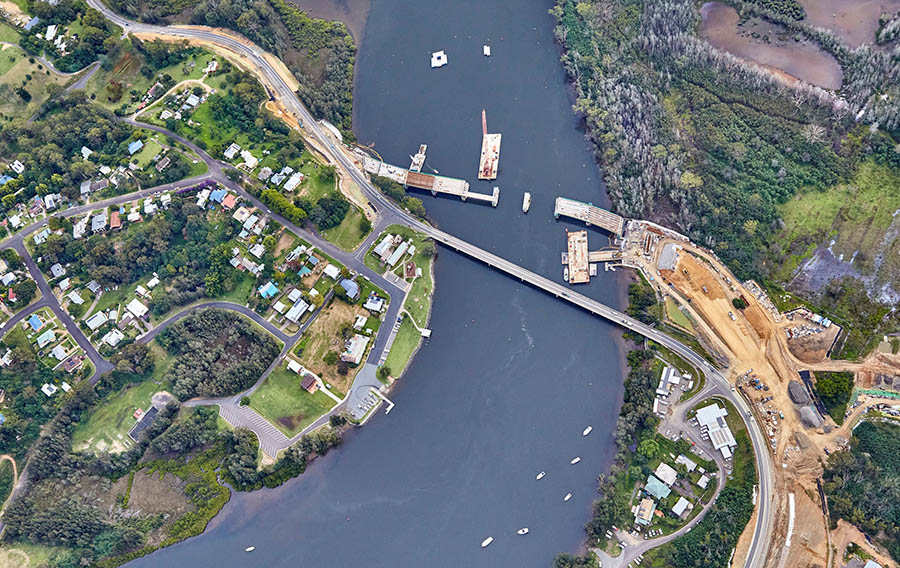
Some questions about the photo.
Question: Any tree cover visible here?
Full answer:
Yes, tree cover can be seen from above here.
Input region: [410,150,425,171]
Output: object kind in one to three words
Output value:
ship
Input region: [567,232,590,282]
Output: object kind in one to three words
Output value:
ship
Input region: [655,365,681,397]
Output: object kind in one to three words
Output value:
building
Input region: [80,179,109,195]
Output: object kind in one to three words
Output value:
house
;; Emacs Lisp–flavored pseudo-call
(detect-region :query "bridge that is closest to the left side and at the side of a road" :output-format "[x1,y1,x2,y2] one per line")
[359,153,499,210]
